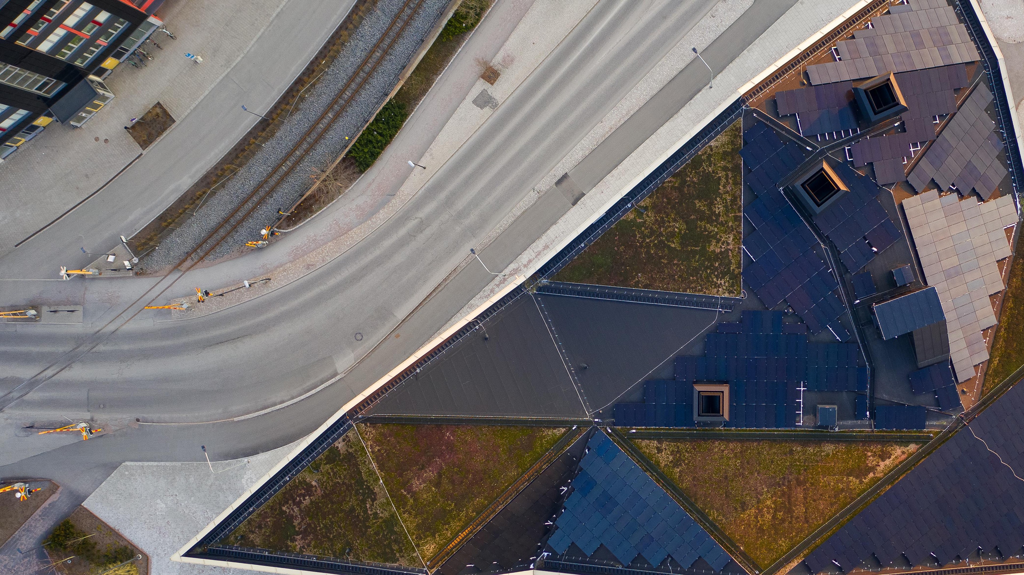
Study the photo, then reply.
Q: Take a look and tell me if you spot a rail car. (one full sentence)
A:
No, I can see no rail car in this picture.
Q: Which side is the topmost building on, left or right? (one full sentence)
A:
The topmost building sits on the left side.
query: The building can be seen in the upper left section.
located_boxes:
[0,0,169,160]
